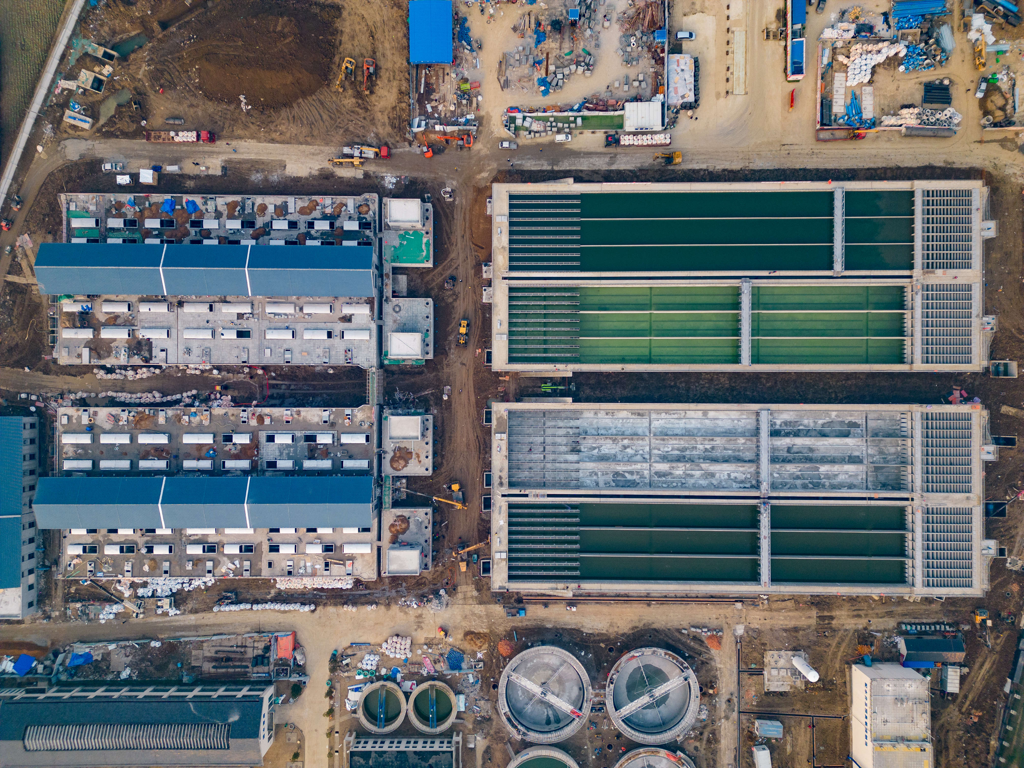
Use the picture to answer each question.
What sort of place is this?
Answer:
industrial area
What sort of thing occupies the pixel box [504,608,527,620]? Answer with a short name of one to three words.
vehicle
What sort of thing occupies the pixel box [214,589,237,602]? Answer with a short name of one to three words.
vehicle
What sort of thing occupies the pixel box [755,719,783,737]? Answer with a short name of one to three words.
building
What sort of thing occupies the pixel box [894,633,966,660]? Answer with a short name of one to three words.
shed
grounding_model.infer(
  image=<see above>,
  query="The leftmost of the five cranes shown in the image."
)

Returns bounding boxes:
[70,582,149,621]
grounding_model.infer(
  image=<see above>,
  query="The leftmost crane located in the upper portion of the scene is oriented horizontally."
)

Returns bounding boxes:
[320,154,361,168]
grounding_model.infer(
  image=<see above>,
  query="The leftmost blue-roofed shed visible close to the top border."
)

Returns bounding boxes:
[410,0,453,73]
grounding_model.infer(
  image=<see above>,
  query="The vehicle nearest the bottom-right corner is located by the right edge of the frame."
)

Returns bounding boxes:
[973,608,992,642]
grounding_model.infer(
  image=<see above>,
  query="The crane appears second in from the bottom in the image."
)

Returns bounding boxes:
[452,545,488,583]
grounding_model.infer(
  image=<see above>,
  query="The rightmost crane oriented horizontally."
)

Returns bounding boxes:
[375,478,469,513]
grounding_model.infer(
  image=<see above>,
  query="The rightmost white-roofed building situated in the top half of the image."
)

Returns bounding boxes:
[622,102,661,136]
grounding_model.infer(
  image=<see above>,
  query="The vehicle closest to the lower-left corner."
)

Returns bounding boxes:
[153,600,174,613]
